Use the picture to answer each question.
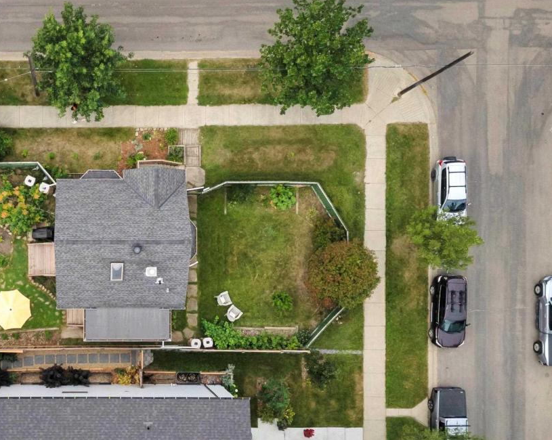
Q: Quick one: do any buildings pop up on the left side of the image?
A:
Yes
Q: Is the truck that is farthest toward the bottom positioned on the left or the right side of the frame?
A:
right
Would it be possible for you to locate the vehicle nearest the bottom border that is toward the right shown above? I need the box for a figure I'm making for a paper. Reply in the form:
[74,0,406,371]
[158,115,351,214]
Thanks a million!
[428,385,472,440]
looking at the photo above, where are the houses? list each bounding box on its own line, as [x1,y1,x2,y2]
[53,159,203,348]
[0,380,258,440]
